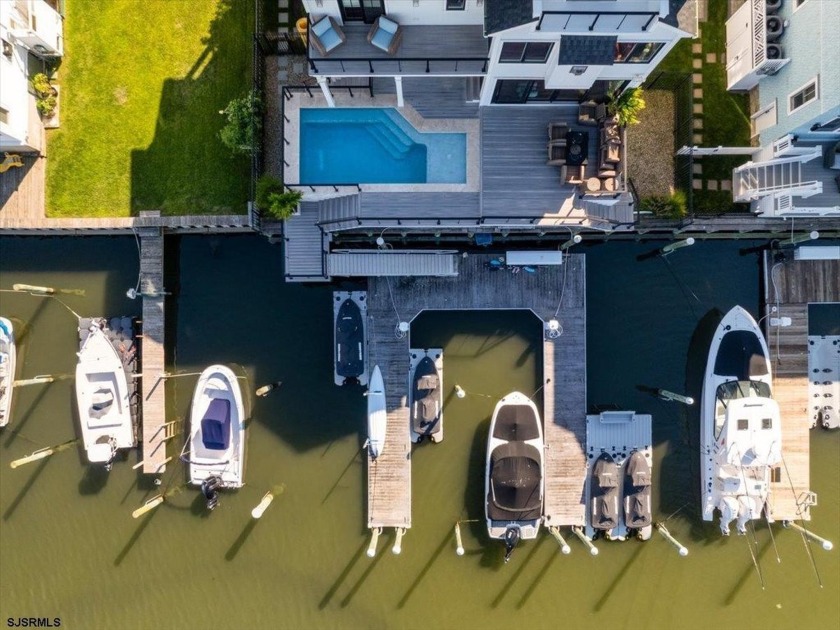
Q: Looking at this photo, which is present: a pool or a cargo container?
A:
pool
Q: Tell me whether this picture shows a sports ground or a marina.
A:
marina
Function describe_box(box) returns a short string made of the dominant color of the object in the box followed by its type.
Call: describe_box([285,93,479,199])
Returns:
blue swimming pool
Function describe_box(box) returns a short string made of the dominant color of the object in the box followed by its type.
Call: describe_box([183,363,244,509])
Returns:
white boat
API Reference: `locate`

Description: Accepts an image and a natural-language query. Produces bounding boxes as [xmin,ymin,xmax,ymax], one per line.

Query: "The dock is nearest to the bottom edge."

[585,415,651,539]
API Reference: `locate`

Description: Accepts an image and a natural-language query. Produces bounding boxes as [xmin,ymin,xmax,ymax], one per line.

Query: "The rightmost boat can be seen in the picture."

[692,305,817,590]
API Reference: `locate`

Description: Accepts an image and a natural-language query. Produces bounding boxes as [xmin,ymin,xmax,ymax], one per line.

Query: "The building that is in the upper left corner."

[0,0,63,155]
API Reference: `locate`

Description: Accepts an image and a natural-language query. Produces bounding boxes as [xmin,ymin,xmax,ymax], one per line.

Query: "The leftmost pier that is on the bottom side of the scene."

[78,317,143,452]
